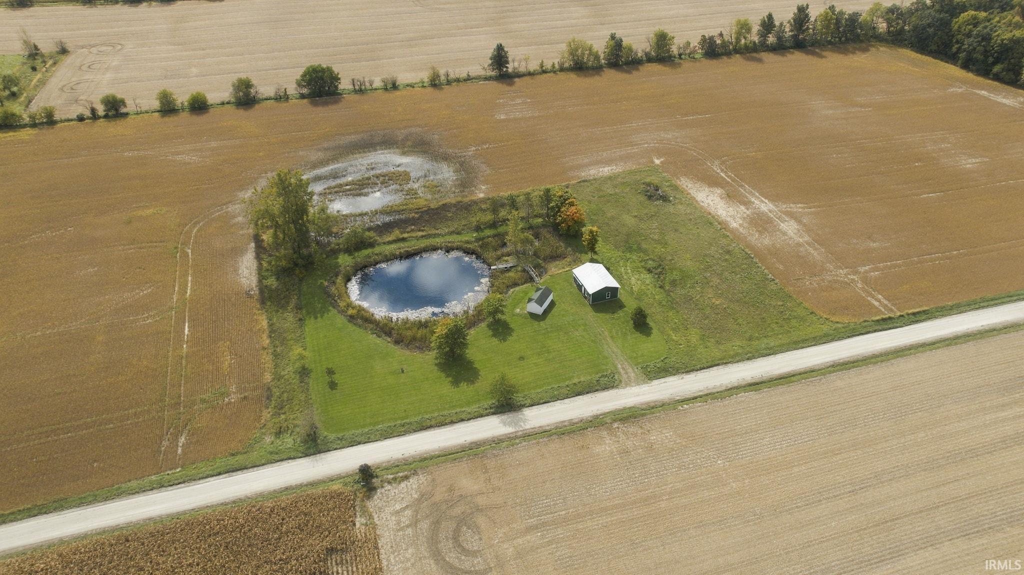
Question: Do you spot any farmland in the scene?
Yes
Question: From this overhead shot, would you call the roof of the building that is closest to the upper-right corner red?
No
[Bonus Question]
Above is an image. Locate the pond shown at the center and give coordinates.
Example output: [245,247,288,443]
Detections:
[349,250,490,319]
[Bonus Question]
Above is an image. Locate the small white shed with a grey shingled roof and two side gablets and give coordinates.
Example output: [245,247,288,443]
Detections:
[526,286,552,314]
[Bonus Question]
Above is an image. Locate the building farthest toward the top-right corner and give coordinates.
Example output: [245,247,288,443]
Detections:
[571,262,622,304]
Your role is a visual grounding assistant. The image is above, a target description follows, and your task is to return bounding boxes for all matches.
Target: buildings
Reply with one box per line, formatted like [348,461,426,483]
[571,262,622,304]
[526,286,552,314]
